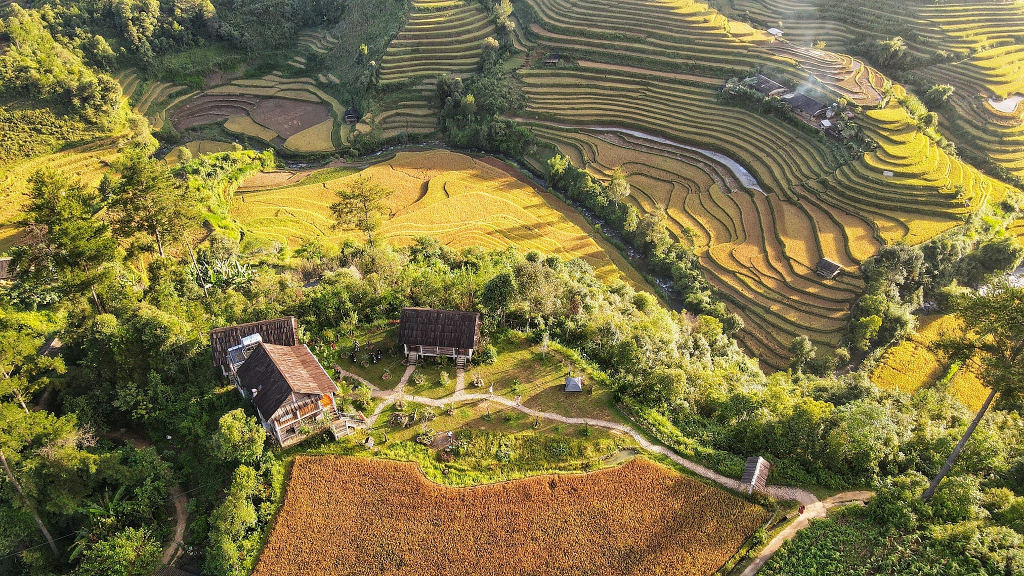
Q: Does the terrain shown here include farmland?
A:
Yes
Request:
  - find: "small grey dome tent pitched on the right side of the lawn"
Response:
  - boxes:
[561,378,583,397]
